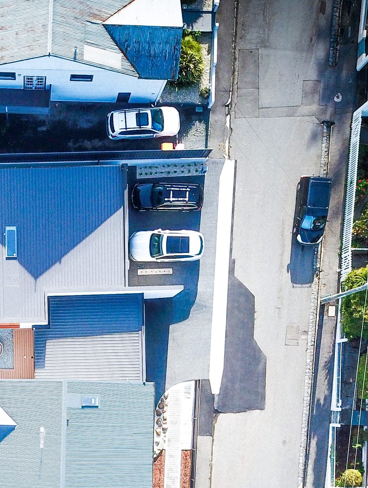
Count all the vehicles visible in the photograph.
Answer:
four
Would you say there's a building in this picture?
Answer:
Yes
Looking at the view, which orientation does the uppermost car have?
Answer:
from side to side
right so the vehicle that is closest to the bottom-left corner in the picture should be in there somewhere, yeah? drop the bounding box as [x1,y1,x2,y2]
[128,227,201,264]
